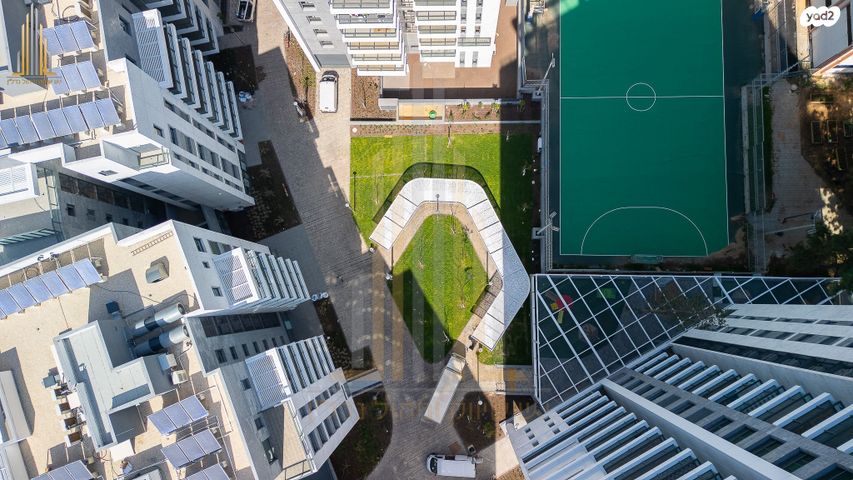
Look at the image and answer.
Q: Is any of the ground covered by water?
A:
No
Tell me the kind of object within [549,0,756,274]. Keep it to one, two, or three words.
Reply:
sports court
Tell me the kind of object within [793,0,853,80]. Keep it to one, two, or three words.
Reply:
house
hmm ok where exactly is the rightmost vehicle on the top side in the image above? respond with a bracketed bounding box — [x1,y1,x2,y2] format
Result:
[317,72,337,110]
